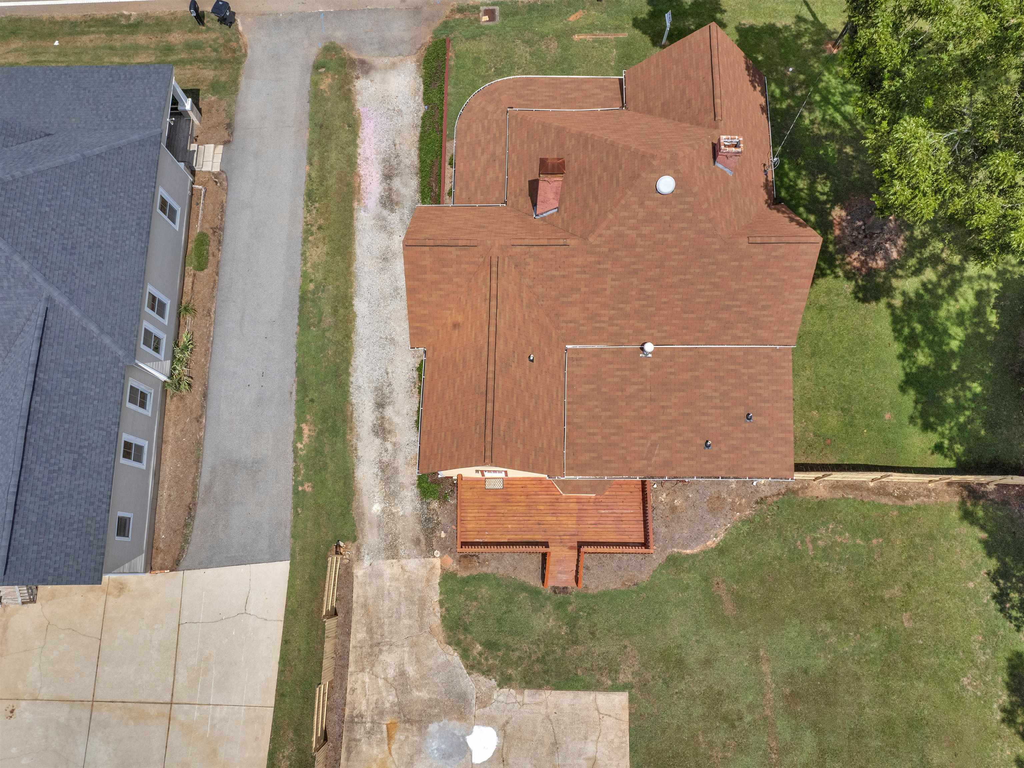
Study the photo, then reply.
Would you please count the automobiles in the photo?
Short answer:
0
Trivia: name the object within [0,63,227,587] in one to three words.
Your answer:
house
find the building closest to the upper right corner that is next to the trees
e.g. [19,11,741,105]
[403,25,819,495]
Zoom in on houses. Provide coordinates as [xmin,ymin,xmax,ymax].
[0,63,227,587]
[403,25,819,495]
